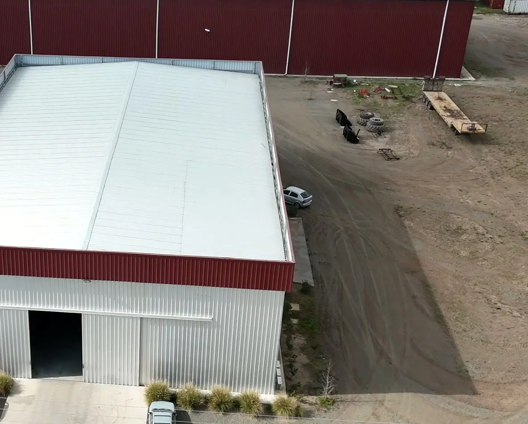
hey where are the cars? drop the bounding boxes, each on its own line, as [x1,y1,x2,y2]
[147,403,179,424]
[283,184,313,207]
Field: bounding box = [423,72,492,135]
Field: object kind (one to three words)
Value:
trailer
